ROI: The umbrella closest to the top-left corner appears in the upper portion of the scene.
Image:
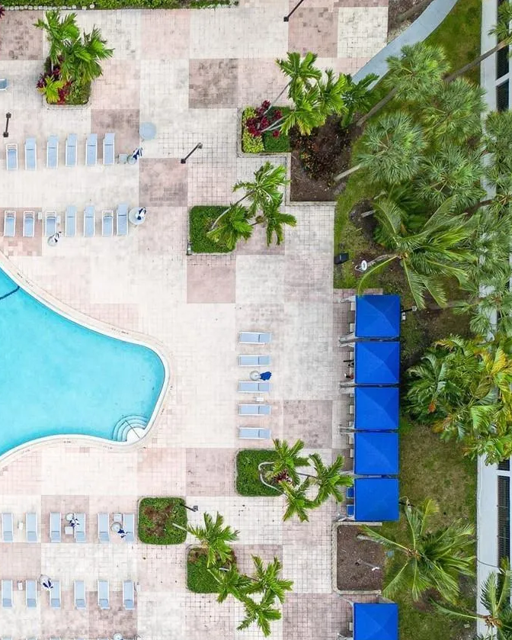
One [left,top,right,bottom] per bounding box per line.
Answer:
[123,144,139,164]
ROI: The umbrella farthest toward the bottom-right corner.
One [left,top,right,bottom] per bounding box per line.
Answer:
[250,366,273,385]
